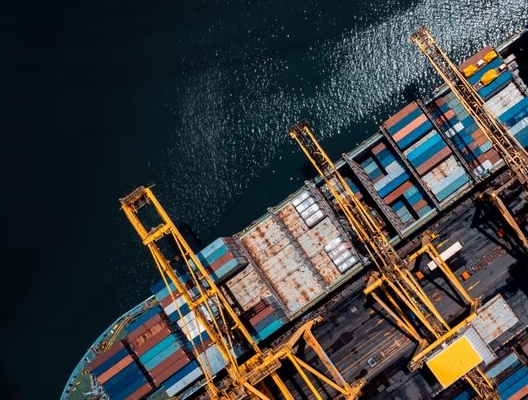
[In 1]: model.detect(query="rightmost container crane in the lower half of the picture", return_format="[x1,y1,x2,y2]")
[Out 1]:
[285,121,506,400]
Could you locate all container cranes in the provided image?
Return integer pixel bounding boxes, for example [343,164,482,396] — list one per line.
[117,181,364,400]
[285,121,506,400]
[407,24,528,260]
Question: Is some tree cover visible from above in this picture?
No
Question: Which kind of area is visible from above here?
port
